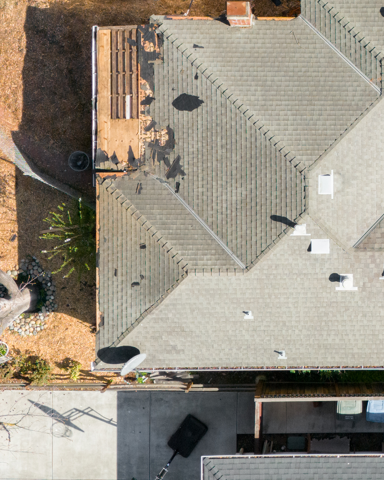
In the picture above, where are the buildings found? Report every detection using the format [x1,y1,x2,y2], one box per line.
[197,451,384,480]
[93,0,384,371]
